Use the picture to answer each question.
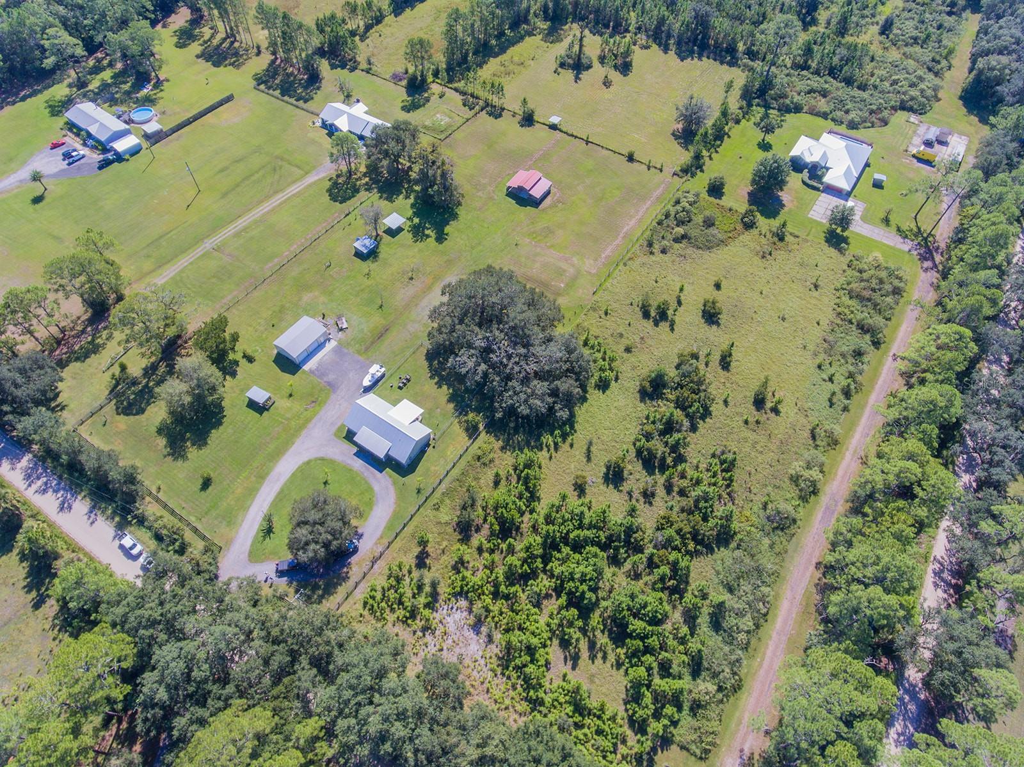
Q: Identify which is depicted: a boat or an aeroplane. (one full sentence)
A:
The one in the frame is a boat.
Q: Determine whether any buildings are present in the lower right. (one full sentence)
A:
No, there's no building to be seen in the lower right.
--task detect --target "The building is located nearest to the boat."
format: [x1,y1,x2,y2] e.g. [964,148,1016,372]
[341,393,433,468]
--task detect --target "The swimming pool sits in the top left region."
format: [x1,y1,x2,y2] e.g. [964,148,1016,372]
[126,106,155,123]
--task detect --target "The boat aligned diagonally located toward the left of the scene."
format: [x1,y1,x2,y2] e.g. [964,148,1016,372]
[363,360,389,386]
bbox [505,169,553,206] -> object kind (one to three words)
barn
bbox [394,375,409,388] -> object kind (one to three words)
vehicle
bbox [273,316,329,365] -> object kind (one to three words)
building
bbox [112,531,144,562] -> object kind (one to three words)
truck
